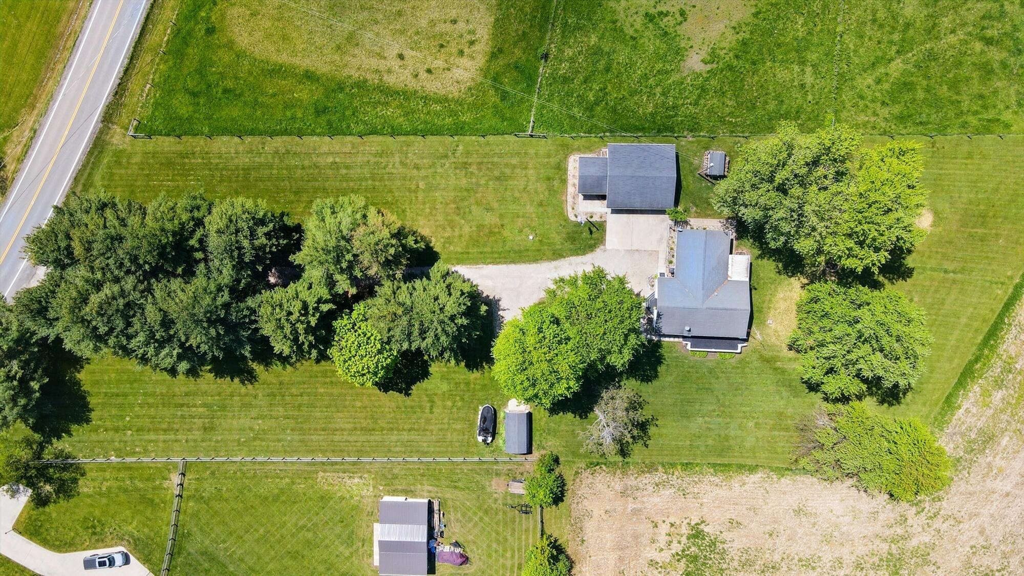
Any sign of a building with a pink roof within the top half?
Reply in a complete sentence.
No, I can find no building with a pink roof within the top half.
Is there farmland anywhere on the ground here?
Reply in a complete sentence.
Yes, farmland shows up in the scene.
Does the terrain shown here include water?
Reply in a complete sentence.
No, there is no water in the image.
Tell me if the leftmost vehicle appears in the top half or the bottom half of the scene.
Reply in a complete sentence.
It is in the bottom half that the leftmost vehicle appears.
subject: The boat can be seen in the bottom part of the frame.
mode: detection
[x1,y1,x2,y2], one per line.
[477,404,494,450]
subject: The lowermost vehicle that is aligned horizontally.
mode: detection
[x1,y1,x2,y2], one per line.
[83,549,127,569]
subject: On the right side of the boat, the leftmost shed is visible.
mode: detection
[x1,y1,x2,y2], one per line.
[504,410,530,454]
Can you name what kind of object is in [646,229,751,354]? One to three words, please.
house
